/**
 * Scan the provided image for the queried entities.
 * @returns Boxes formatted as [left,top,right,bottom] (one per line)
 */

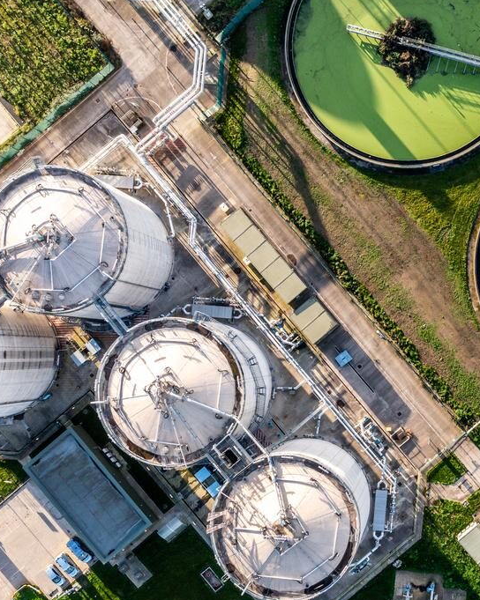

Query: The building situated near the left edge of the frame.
[23,427,160,564]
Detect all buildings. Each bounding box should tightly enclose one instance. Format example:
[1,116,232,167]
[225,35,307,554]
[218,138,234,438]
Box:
[290,296,341,343]
[456,518,480,566]
[221,207,309,303]
[23,427,160,564]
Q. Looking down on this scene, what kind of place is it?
industrial area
